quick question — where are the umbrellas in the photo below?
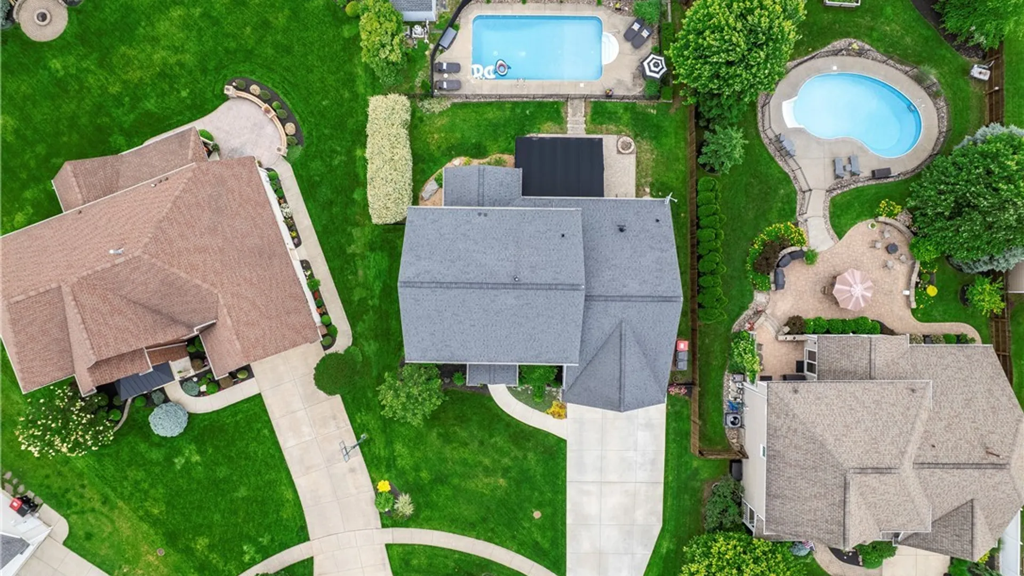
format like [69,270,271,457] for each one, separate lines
[829,268,872,310]
[640,53,666,80]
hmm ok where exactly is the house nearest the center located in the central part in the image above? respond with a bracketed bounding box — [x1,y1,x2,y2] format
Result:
[397,165,684,412]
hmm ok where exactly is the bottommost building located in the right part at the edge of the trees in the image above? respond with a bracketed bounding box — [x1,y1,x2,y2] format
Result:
[743,334,1024,562]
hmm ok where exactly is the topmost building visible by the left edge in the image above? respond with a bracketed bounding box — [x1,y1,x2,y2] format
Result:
[0,126,326,402]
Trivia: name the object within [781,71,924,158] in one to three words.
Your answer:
swimming pool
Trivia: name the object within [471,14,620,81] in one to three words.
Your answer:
swimming pool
